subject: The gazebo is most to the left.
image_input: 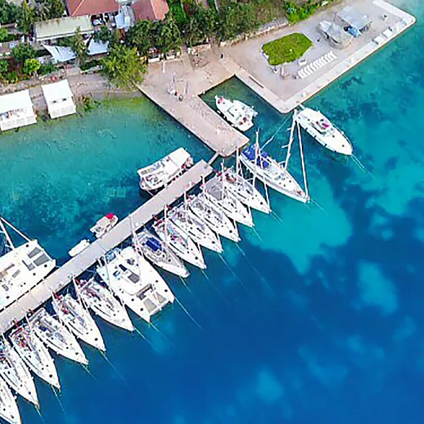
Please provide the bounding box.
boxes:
[0,89,37,135]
